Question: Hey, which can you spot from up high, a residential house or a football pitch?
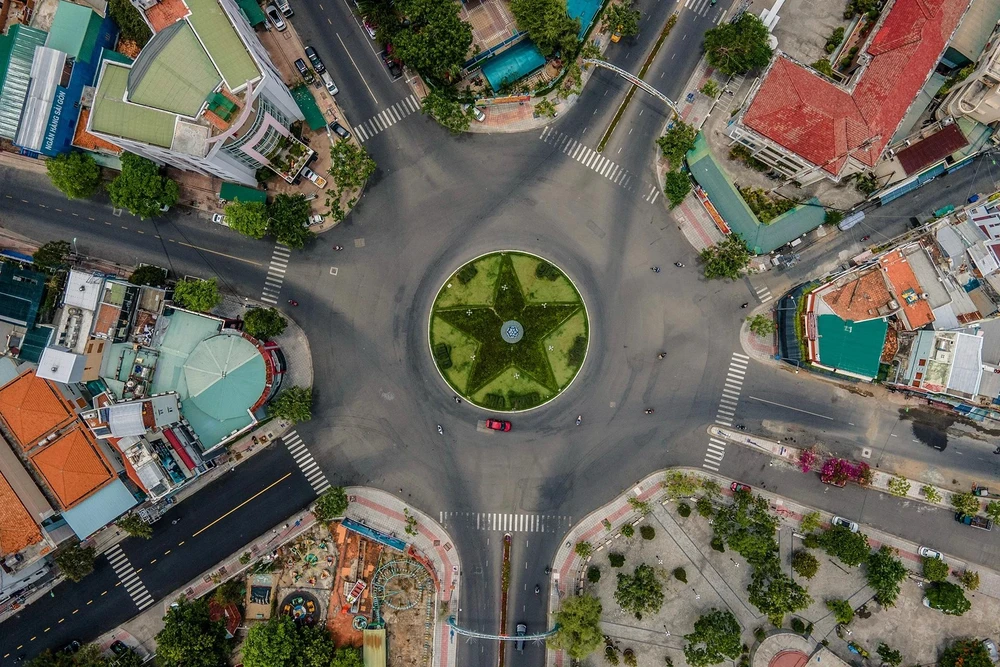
residential house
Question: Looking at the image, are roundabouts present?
Yes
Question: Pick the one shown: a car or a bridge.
car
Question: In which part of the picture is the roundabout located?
center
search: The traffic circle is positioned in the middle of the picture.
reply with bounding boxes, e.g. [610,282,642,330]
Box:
[429,251,591,412]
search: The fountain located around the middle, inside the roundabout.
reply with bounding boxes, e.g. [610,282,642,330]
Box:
[500,319,523,343]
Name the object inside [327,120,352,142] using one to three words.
car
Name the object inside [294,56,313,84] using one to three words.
car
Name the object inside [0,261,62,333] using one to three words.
building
